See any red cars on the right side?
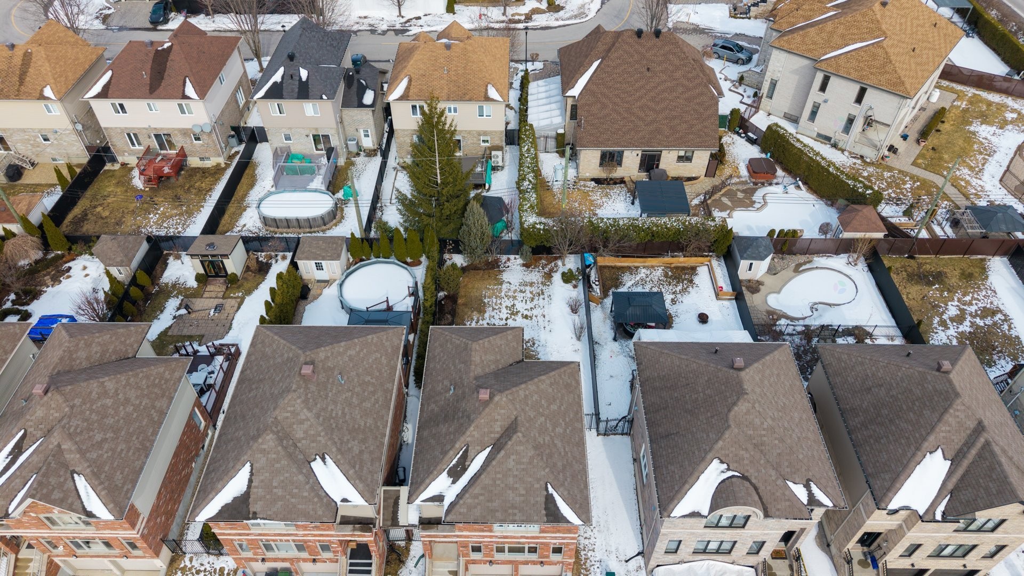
No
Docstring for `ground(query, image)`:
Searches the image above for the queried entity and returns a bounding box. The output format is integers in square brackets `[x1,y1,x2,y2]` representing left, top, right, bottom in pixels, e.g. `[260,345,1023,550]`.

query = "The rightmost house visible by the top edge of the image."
[750,0,967,171]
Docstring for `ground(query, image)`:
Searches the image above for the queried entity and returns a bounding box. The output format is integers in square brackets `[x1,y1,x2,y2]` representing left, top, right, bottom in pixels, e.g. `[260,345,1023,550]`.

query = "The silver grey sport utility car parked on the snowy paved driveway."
[711,37,756,64]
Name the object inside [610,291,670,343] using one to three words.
gazebo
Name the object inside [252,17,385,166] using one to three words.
house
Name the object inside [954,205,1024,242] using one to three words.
gazebo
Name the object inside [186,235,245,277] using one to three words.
shed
